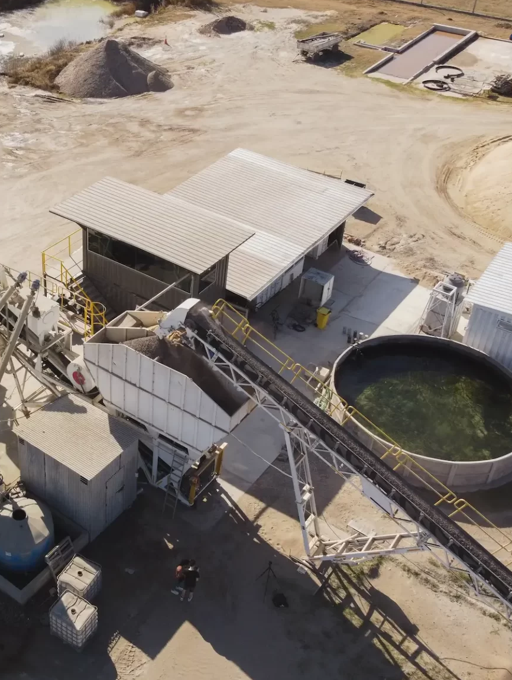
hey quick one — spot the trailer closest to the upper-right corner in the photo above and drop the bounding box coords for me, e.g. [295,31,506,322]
[295,28,348,62]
